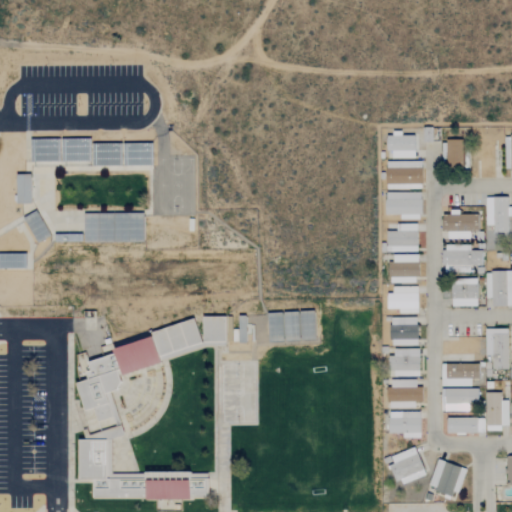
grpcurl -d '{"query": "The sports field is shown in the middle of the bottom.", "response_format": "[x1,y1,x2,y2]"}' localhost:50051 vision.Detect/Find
[231,300,380,512]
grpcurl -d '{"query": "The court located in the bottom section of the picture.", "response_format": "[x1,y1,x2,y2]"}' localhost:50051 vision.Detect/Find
[221,361,258,427]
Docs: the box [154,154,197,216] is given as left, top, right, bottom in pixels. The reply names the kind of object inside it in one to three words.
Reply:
basketball court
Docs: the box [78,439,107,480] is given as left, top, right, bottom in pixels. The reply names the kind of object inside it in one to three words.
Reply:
building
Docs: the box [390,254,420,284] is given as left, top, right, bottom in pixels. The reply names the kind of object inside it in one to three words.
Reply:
house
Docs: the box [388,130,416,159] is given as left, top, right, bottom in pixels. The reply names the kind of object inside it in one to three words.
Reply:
house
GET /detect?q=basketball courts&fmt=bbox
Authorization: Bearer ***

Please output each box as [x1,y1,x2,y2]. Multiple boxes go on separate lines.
[221,361,258,427]
[154,154,197,216]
